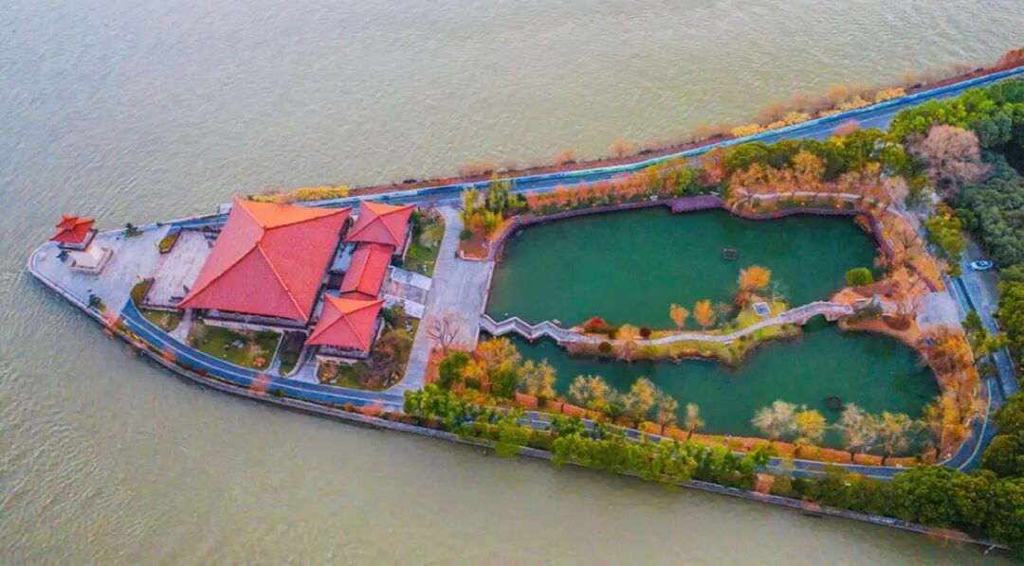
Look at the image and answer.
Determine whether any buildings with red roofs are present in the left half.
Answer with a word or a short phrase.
Yes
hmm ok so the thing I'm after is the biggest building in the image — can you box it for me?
[172,194,353,333]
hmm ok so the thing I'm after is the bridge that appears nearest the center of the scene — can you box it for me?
[478,314,577,344]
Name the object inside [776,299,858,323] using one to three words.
bridge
